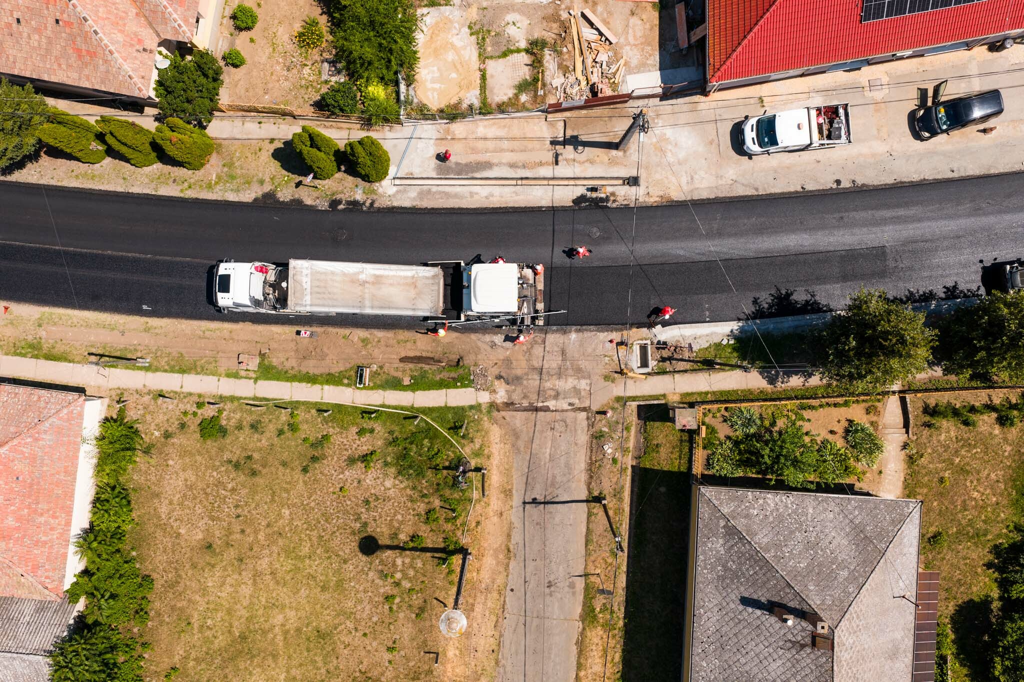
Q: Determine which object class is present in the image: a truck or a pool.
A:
truck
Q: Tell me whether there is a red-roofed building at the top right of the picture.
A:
Yes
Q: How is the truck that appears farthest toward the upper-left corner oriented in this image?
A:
horizontally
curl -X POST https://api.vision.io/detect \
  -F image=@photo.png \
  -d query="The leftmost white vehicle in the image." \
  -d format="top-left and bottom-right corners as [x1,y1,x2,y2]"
[214,255,448,317]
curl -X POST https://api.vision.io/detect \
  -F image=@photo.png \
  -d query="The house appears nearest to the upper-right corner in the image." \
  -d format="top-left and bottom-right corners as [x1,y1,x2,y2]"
[700,0,1024,94]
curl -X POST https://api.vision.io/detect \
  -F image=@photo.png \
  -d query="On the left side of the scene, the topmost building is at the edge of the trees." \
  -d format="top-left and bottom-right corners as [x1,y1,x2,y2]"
[0,0,216,99]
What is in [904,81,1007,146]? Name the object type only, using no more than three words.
van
